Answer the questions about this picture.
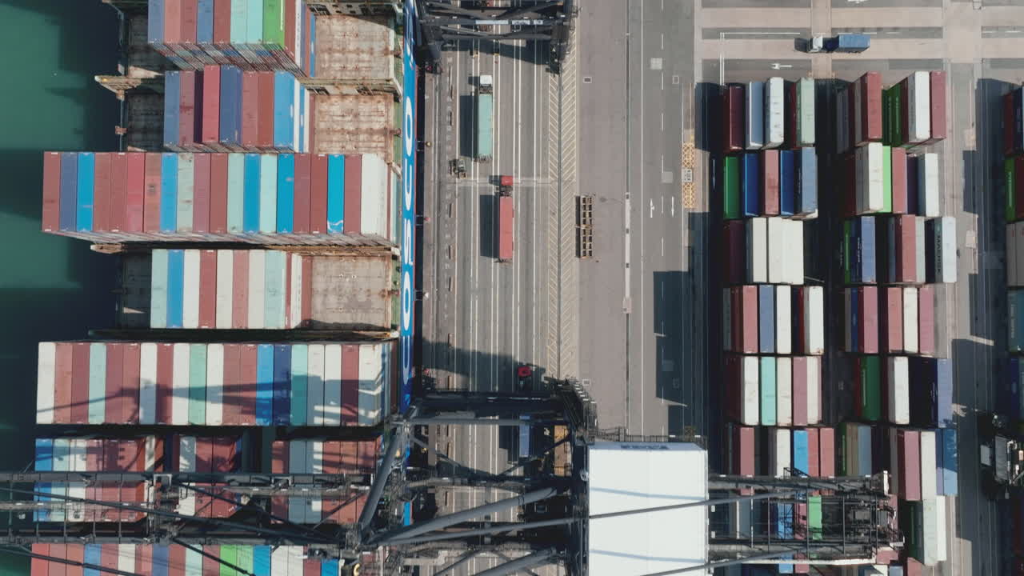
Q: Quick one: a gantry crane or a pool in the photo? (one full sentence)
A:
I can see a gantry crane in this picture.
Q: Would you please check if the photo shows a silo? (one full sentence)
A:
No, I can see no silo in this picture.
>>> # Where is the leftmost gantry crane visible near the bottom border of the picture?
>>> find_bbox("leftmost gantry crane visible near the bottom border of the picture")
[0,354,921,576]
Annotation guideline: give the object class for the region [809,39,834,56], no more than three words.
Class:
vehicle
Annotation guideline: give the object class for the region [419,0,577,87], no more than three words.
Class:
container crane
